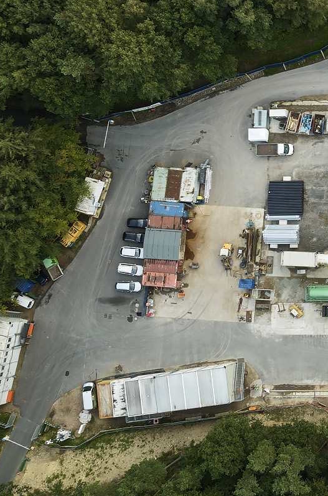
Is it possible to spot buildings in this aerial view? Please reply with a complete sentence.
Yes, a building is visible in the scene.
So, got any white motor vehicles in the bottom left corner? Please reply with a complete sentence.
Yes, a white motor vehicle is visible in the bottom left corner.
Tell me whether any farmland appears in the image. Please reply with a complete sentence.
No, farmland can't be seen anywhere here.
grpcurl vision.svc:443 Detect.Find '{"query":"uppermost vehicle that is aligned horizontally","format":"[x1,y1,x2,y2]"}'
[257,142,294,156]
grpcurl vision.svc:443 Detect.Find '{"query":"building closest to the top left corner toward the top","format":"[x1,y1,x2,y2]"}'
[76,177,113,216]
